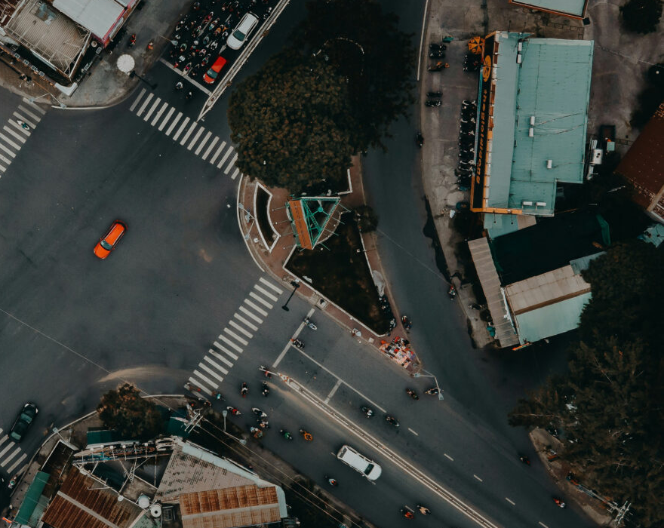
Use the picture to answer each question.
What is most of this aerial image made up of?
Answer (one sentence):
The bulk of the photo consists of paved ground.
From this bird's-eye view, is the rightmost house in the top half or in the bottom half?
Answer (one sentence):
The rightmost house is in the top half of the image.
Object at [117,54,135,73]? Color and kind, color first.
white umbrella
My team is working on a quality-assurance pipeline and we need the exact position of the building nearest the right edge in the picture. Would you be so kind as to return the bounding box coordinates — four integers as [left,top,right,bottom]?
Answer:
[598,108,664,226]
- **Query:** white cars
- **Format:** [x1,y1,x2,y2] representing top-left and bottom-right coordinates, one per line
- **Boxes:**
[225,10,261,53]
[336,444,383,483]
